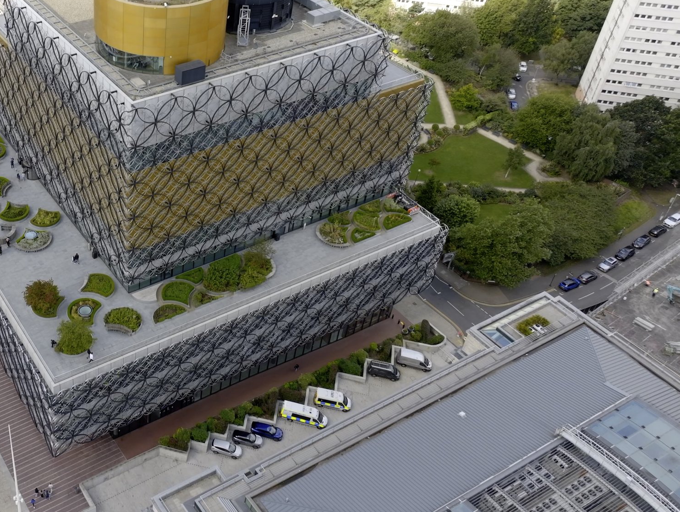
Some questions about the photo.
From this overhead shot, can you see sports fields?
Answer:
Yes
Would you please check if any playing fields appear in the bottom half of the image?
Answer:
Yes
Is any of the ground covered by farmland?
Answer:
No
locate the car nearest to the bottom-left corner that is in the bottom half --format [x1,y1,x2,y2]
[210,436,243,459]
